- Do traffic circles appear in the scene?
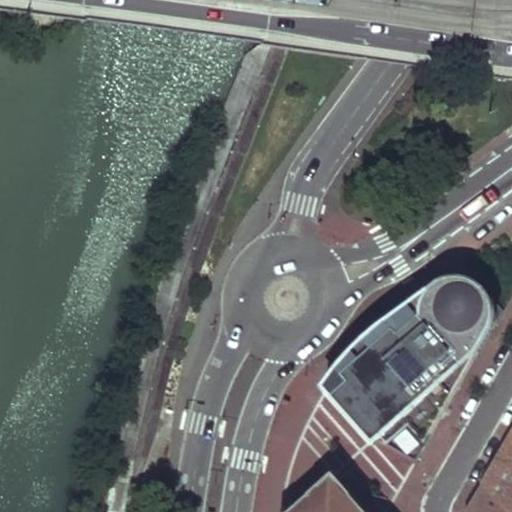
Yes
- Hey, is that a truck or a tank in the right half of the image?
truck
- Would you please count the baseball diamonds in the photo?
zero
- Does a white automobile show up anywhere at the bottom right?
Yes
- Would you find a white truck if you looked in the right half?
Yes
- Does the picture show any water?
Yes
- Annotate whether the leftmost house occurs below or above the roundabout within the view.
below it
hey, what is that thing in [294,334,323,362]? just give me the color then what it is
white vehicle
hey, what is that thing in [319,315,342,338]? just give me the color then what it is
white vehicle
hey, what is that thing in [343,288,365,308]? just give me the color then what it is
white car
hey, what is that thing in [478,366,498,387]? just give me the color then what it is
white car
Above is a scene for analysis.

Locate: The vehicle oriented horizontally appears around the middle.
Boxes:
[274,262,297,274]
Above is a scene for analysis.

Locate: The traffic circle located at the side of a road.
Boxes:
[213,212,360,364]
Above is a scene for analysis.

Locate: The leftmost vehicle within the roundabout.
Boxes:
[226,325,244,350]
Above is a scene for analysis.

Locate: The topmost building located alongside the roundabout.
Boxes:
[318,276,494,443]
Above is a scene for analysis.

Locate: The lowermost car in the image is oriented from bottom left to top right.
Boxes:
[469,460,486,482]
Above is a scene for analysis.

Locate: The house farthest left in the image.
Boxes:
[288,471,368,512]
